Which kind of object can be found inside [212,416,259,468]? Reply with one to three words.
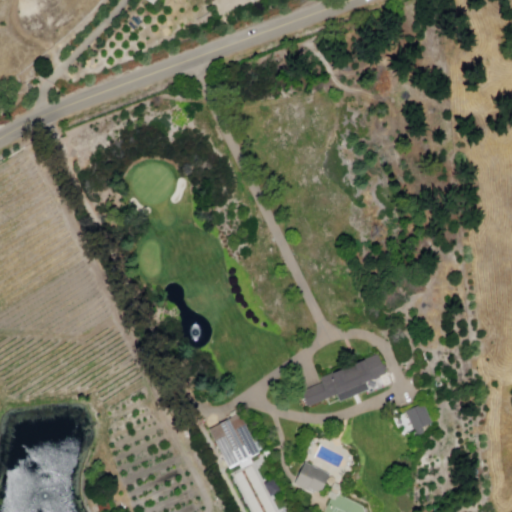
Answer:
greenhouse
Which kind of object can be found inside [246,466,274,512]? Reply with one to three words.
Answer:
greenhouse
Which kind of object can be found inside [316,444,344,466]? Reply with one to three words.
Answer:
swimming pool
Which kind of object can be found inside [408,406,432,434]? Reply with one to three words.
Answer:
house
